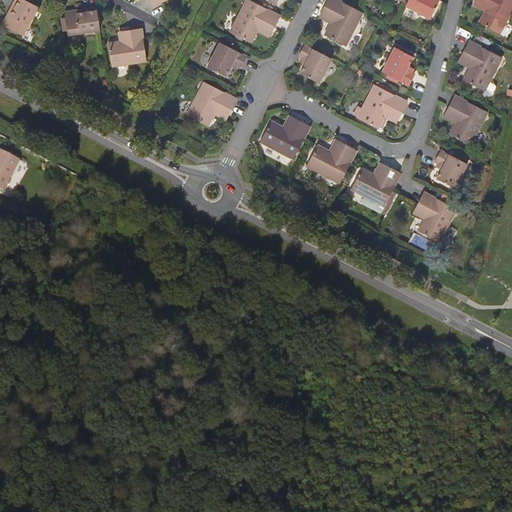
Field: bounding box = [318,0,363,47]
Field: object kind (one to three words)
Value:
house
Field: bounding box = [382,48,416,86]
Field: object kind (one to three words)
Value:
house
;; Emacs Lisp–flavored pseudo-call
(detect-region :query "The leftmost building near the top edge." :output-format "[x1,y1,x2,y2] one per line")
[4,0,41,34]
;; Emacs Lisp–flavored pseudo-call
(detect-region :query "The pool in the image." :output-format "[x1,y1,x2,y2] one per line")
[409,232,430,250]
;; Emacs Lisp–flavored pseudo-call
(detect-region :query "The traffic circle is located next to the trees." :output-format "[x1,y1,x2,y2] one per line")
[192,172,232,212]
